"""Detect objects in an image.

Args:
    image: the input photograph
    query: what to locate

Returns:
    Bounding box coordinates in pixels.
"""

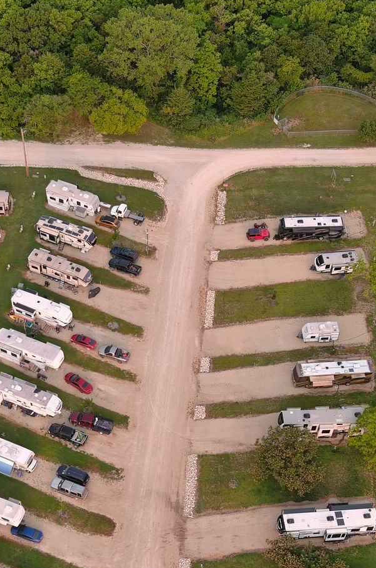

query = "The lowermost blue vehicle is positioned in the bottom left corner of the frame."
[12,521,43,541]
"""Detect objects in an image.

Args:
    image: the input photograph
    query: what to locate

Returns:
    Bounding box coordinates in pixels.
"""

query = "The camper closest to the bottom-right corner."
[273,503,376,544]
